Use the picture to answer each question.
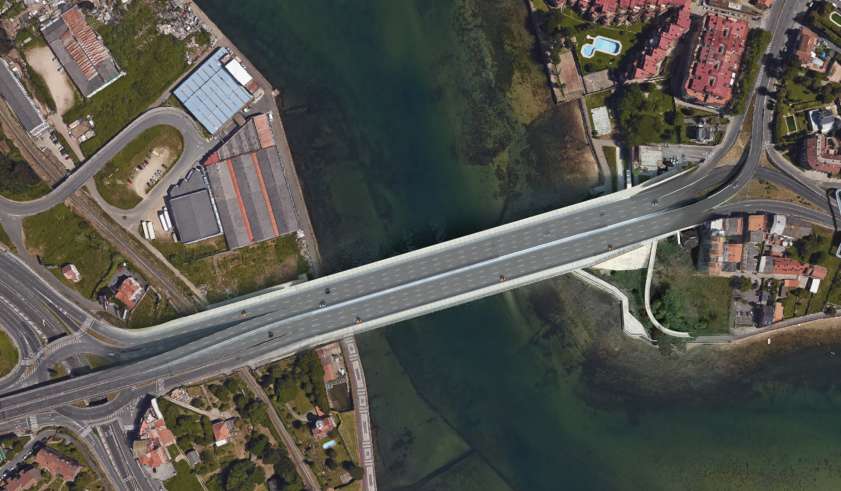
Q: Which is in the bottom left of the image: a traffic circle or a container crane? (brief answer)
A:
traffic circle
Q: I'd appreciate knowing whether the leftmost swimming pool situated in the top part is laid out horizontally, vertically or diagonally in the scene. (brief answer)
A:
horizontally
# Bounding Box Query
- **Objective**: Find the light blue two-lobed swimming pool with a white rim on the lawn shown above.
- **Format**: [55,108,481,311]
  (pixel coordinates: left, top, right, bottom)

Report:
[582,36,622,57]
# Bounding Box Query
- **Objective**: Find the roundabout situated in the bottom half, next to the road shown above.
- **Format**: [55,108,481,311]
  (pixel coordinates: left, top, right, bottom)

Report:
[28,339,136,425]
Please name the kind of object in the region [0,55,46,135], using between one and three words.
shed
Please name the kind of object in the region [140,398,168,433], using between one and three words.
building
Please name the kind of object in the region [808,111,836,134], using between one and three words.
house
